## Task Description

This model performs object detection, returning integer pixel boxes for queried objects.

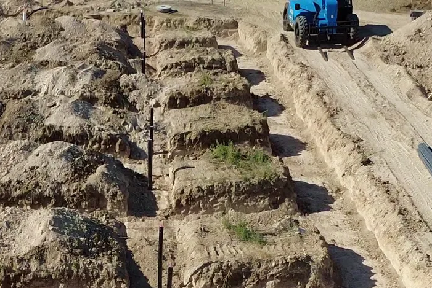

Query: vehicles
[286,0,362,56]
